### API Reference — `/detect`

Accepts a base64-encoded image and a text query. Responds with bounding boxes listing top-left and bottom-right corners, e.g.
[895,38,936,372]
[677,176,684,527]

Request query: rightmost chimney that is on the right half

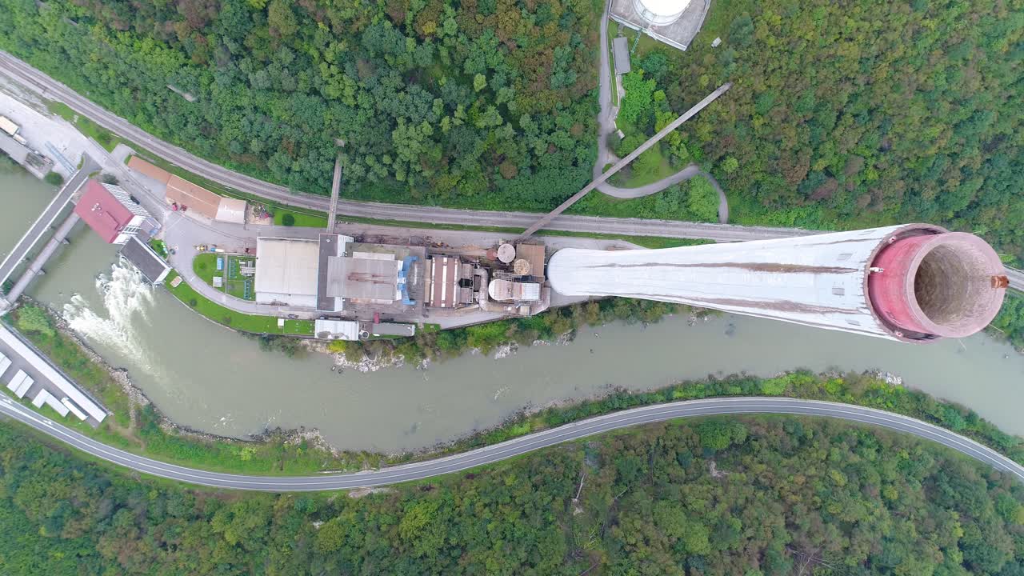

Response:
[547,223,1022,349]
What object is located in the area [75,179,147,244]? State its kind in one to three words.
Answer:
building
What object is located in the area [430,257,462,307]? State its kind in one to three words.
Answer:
house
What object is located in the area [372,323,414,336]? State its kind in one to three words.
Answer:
shed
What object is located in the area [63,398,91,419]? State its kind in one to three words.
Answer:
truck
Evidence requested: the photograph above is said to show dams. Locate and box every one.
[0,210,87,320]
